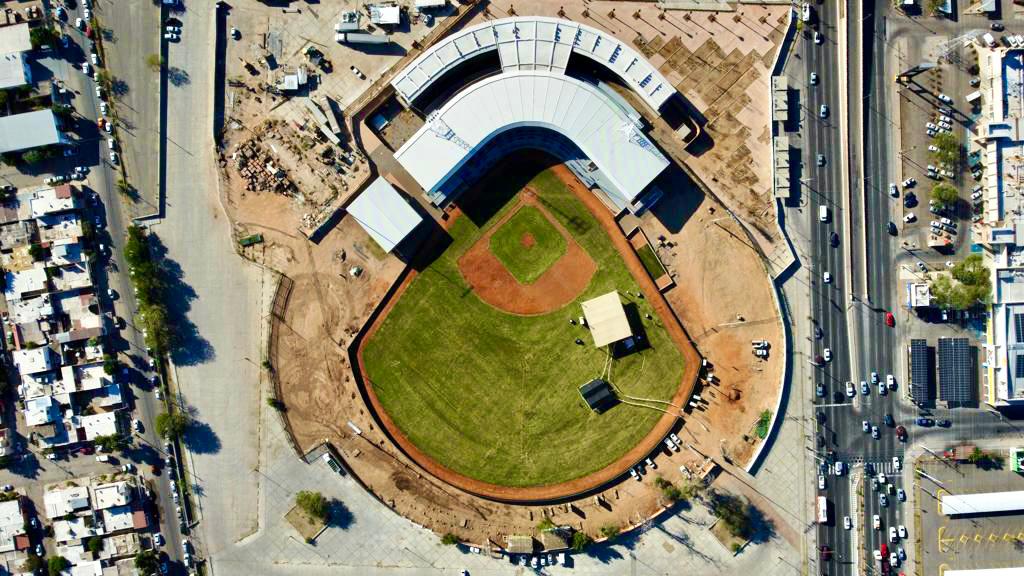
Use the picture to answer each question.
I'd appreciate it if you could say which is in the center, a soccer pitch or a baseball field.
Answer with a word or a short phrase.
baseball field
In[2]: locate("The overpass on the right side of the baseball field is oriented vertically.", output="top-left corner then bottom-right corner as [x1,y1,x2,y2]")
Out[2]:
[841,0,869,300]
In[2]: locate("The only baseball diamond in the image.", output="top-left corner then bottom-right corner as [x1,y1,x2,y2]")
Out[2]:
[350,153,699,497]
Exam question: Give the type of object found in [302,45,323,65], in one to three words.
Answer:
work vehicle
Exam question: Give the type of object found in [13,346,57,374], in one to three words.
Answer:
house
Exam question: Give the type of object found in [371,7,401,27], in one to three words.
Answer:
building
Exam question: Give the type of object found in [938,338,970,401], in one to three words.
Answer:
solar panel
